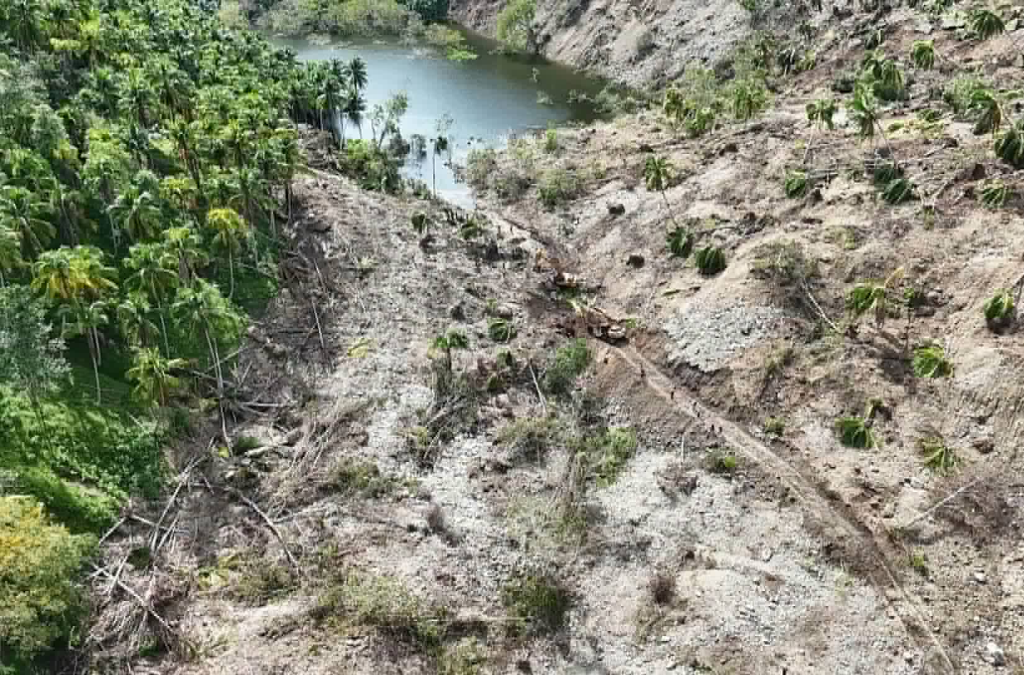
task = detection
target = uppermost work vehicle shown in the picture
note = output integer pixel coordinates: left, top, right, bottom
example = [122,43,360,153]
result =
[546,254,583,289]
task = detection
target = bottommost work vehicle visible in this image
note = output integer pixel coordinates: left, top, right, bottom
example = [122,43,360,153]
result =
[584,306,629,342]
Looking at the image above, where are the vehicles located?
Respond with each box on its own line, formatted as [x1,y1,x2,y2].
[546,254,583,289]
[584,306,629,342]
